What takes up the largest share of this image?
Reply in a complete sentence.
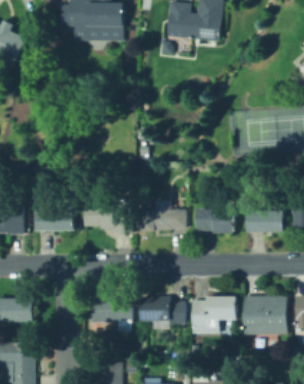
What you mostly see from above here is trees.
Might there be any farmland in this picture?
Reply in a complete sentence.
No, no farmland is visible.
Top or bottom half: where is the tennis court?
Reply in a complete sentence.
You can find the tennis court in the top half.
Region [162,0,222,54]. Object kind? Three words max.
house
